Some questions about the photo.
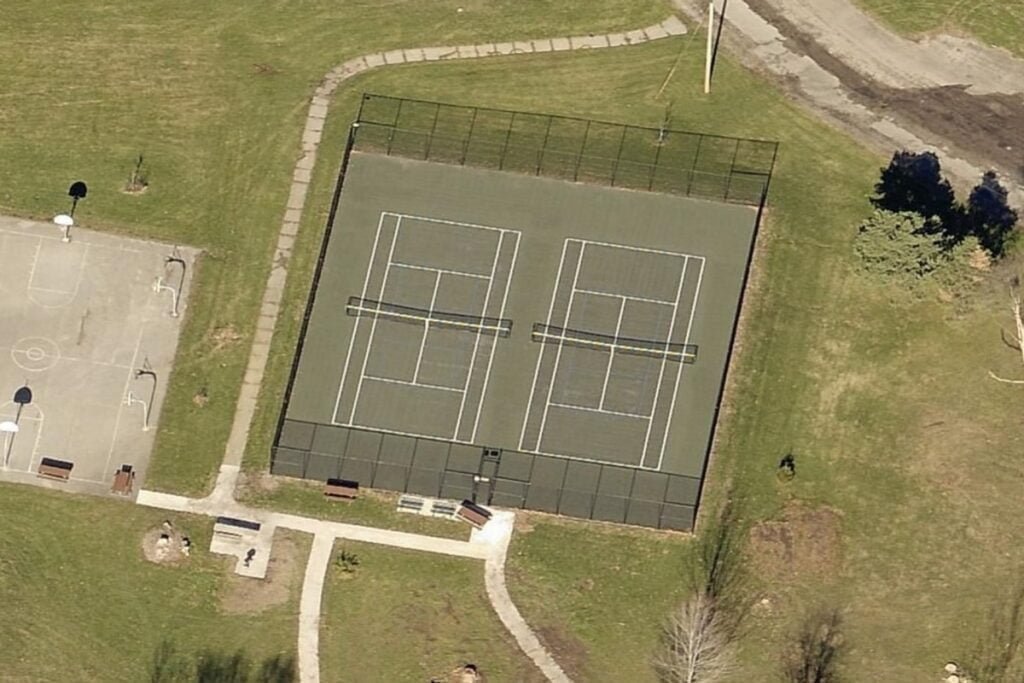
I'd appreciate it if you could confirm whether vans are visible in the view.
No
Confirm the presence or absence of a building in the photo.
No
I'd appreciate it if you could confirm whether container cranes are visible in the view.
No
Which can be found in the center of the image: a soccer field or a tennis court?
tennis court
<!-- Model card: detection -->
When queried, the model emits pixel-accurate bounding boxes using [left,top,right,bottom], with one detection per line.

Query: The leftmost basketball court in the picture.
[0,216,203,498]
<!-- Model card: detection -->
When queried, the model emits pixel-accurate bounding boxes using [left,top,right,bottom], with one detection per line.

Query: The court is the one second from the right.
[333,213,520,443]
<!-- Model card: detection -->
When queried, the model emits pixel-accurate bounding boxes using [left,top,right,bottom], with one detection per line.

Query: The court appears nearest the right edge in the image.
[519,239,704,470]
